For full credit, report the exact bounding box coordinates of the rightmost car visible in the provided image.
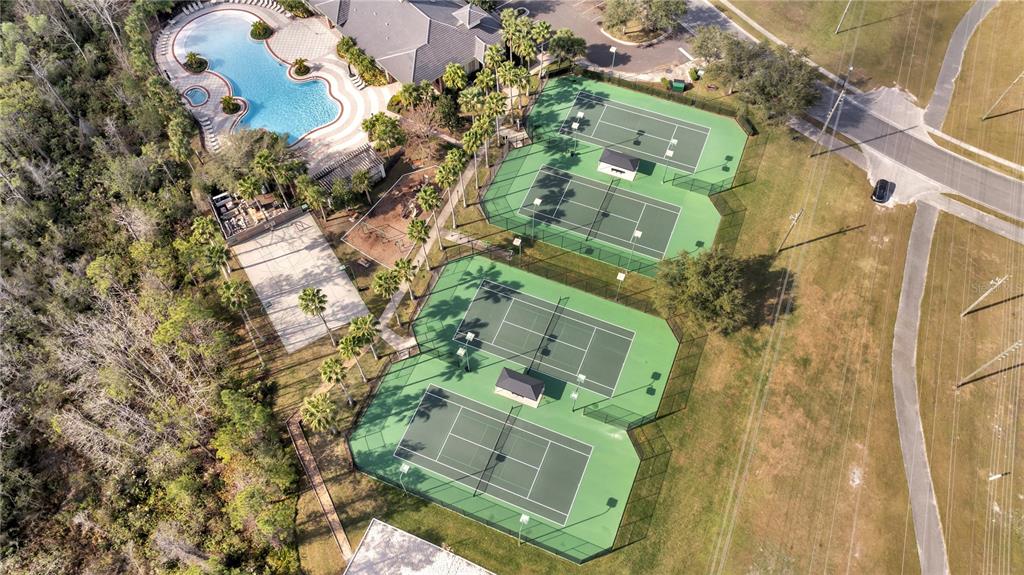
[871,175,894,202]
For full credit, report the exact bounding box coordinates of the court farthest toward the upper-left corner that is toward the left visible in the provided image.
[232,213,370,353]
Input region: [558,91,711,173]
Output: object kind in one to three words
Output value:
tennis court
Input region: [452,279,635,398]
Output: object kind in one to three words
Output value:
tennis court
